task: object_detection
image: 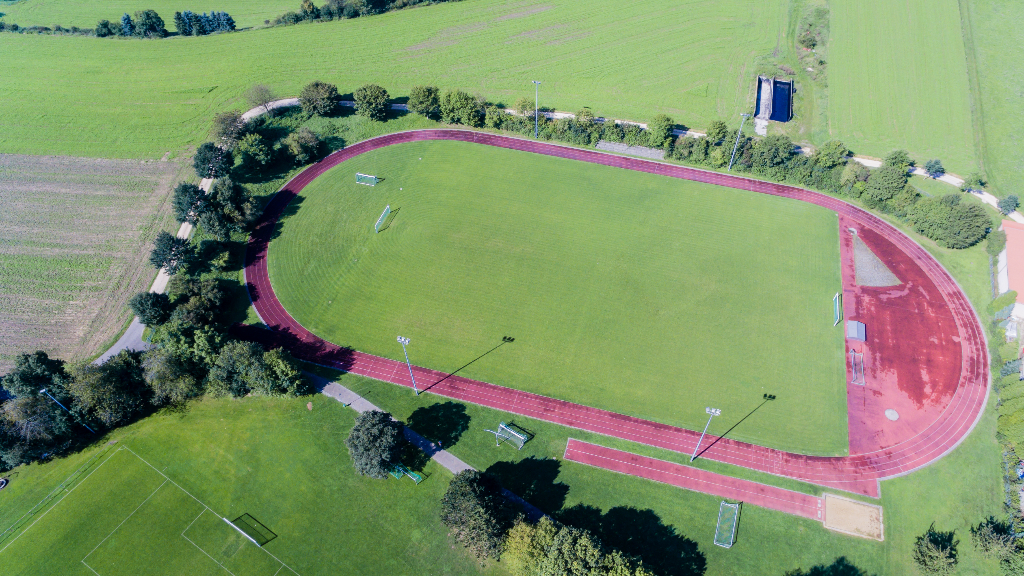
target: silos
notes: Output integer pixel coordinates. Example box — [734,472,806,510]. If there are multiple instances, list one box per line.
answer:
[739,74,792,122]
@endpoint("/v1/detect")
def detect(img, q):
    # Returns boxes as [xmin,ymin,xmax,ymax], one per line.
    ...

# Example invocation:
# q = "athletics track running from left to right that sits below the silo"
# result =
[246,130,989,481]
